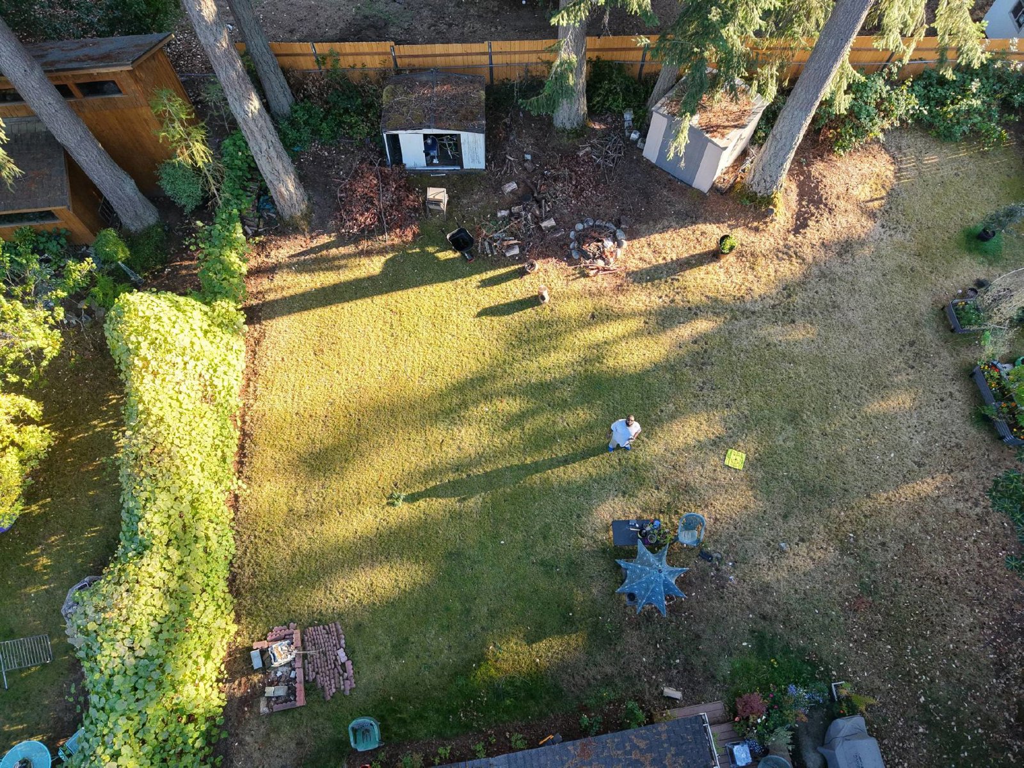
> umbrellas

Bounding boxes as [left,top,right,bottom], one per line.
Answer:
[615,539,689,616]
